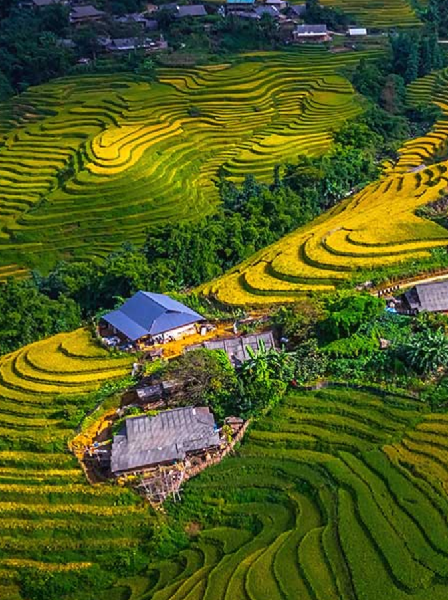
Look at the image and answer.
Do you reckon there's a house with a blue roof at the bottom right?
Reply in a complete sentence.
No, no house with a blue roof is visible at the bottom right.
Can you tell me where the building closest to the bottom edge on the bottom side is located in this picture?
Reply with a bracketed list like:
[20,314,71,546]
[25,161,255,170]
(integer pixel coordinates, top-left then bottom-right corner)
[104,399,223,482]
